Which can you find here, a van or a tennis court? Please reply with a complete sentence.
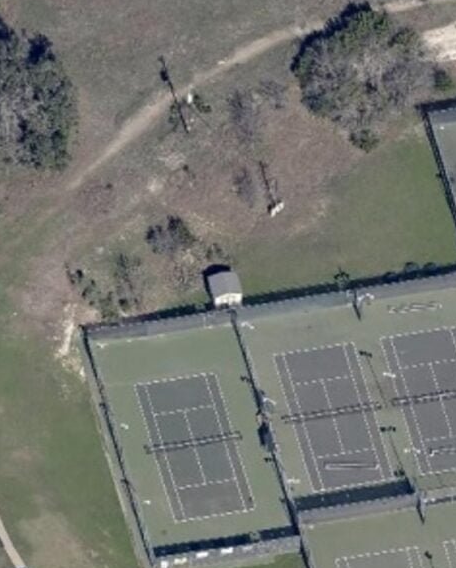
There is a tennis court in the scene.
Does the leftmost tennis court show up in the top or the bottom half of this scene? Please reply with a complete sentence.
You can find the leftmost tennis court in the bottom half.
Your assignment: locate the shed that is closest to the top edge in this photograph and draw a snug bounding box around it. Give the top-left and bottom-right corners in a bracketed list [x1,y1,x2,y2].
[209,270,243,310]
